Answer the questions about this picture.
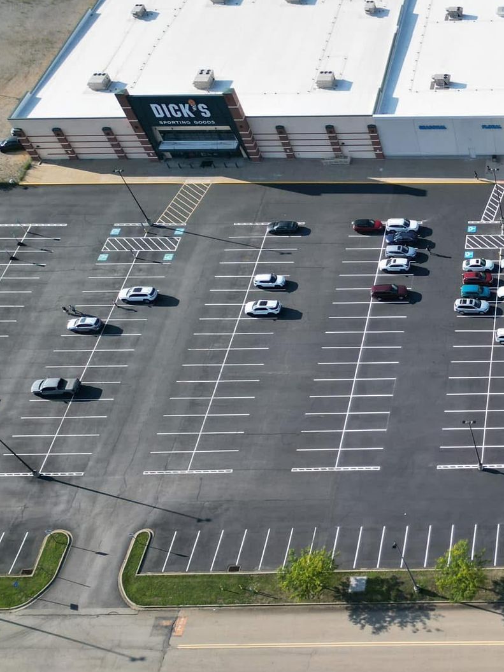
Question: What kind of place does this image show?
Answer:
parking lot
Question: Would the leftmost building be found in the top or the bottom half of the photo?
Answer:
top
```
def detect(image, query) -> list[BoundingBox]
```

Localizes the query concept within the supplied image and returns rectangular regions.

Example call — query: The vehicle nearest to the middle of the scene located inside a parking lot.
[244,301,282,317]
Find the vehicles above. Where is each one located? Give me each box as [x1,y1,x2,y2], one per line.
[494,328,504,345]
[268,221,300,236]
[386,232,418,247]
[244,301,282,317]
[370,284,408,302]
[31,380,82,397]
[385,245,417,260]
[497,288,504,301]
[119,288,158,304]
[460,284,491,300]
[66,317,104,334]
[461,272,494,286]
[462,260,494,273]
[379,259,411,275]
[253,275,287,290]
[352,221,383,234]
[0,137,26,155]
[454,298,490,316]
[386,218,419,234]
